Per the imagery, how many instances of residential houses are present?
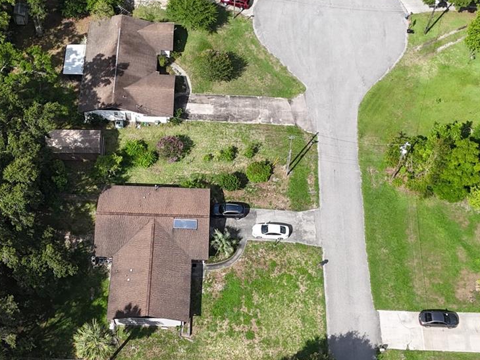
2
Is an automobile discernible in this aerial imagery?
Yes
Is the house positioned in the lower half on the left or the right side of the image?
left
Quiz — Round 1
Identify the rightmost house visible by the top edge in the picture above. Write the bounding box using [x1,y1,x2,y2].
[62,13,175,124]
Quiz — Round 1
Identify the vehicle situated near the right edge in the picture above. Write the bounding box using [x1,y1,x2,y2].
[418,308,460,326]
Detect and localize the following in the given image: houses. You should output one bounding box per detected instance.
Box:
[94,183,210,327]
[62,13,175,124]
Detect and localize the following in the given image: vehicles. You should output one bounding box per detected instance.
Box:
[212,201,249,218]
[224,0,251,8]
[252,221,290,239]
[418,308,460,326]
